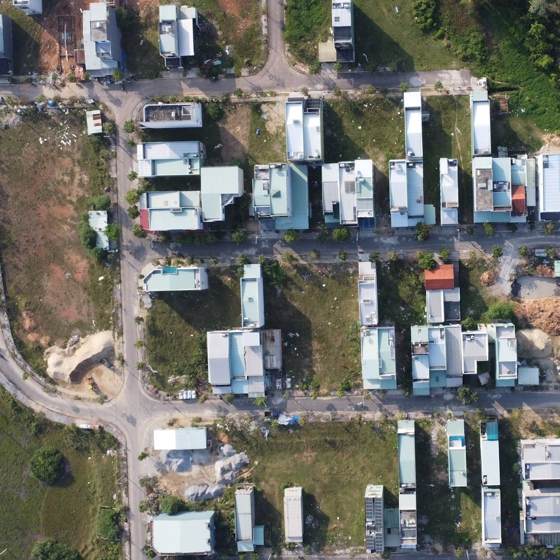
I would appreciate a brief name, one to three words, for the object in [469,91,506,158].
house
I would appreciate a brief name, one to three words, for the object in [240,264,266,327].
house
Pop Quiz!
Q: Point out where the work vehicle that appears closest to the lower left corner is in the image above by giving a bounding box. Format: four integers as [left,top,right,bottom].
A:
[83,373,97,393]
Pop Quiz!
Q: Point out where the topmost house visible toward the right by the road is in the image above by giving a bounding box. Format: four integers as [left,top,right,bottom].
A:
[319,0,354,68]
